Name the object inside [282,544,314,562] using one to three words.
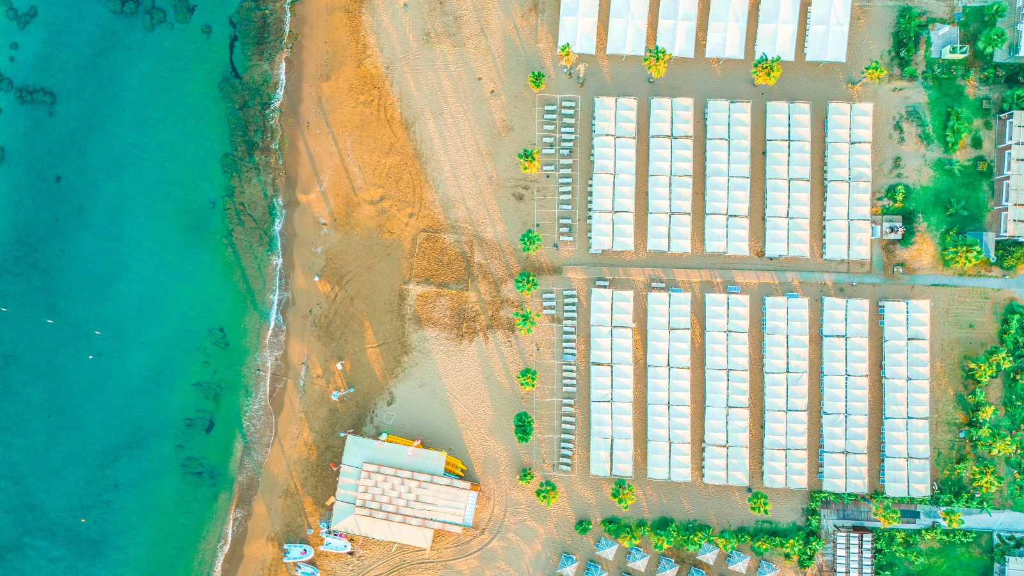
boat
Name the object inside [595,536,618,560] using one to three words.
umbrella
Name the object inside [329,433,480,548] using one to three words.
shed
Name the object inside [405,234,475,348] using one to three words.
sports court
